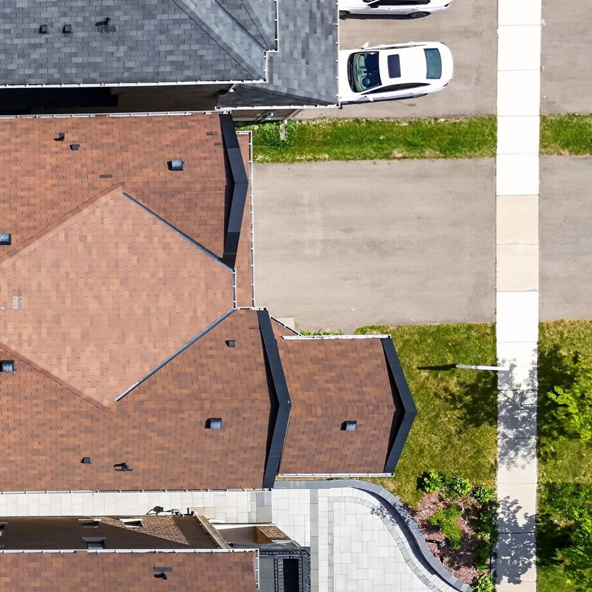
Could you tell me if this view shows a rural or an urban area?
urban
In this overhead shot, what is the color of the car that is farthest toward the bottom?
white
